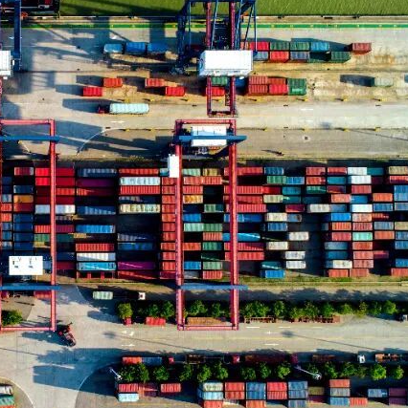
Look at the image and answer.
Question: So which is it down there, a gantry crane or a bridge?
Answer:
gantry crane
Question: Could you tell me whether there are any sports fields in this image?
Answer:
No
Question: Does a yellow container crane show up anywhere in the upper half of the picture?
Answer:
No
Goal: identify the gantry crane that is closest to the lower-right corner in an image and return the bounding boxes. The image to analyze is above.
[156,119,252,330]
